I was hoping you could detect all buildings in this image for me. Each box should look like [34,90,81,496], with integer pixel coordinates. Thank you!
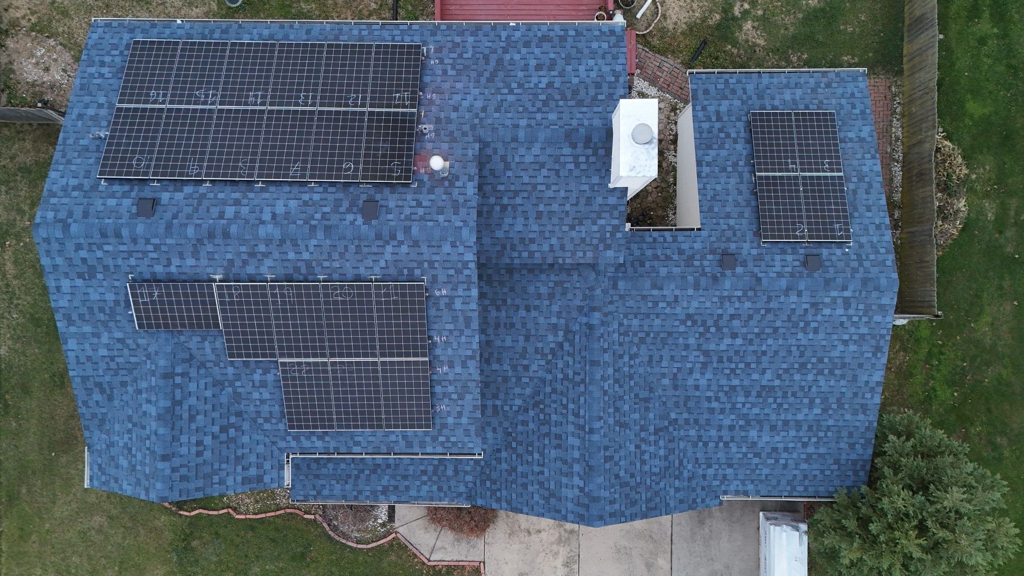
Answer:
[32,18,899,528]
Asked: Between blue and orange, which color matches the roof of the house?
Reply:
blue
